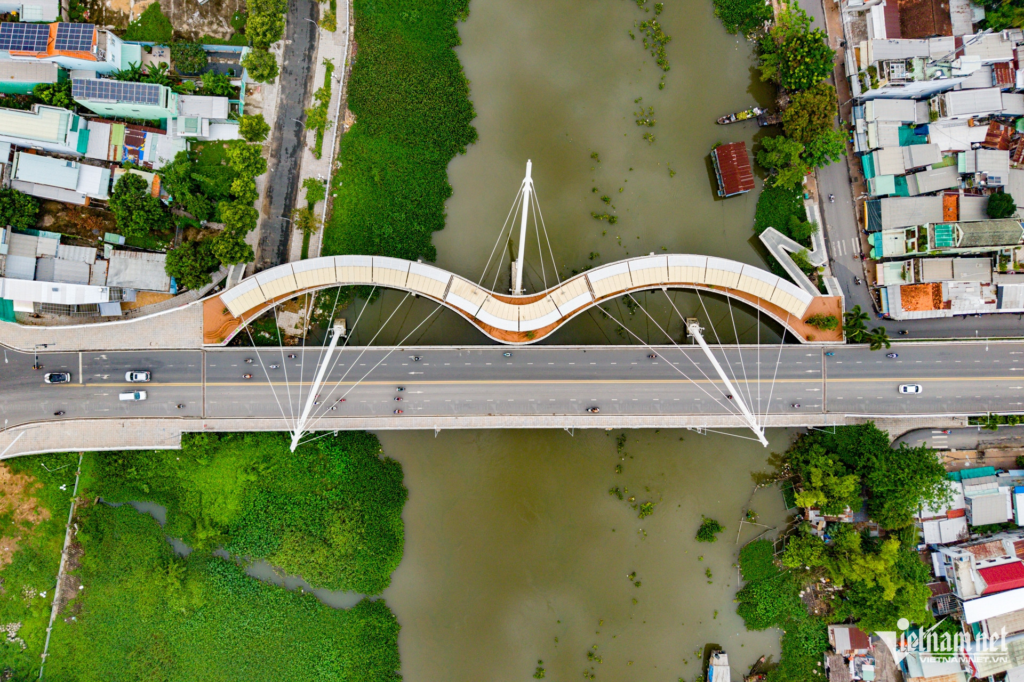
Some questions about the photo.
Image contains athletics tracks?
No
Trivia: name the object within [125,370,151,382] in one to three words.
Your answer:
vehicle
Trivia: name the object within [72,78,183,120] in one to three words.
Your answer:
house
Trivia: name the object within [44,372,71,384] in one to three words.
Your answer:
vehicle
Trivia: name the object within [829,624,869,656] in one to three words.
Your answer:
shed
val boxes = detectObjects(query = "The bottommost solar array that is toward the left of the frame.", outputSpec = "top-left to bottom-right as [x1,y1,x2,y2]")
[73,79,159,104]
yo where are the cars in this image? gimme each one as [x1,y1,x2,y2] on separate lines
[44,372,71,384]
[117,390,147,402]
[899,384,922,395]
[125,370,151,382]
